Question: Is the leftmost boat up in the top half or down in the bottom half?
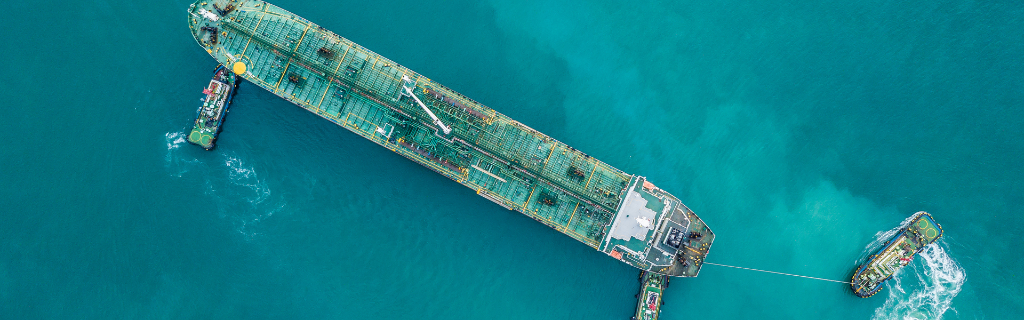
top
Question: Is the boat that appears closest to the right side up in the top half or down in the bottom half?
bottom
